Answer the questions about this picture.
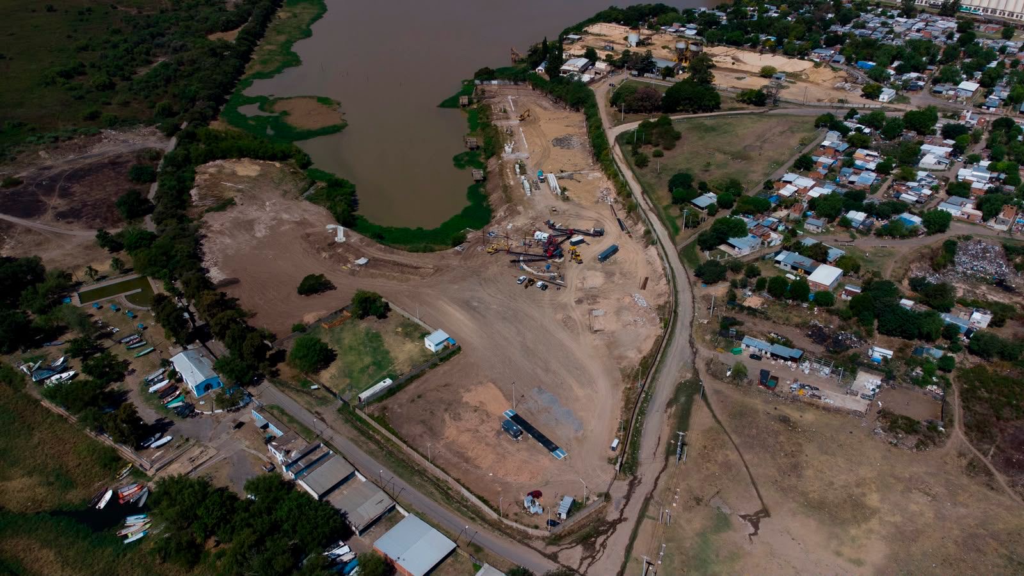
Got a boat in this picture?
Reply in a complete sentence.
Yes, there's a boat down there.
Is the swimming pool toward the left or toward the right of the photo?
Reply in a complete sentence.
The swimming pool is on the left side of the image.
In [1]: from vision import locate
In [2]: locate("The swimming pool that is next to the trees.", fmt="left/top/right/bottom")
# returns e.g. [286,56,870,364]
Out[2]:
[73,274,160,312]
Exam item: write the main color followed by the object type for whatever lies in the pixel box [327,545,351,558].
white boat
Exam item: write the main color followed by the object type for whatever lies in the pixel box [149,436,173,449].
white boat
